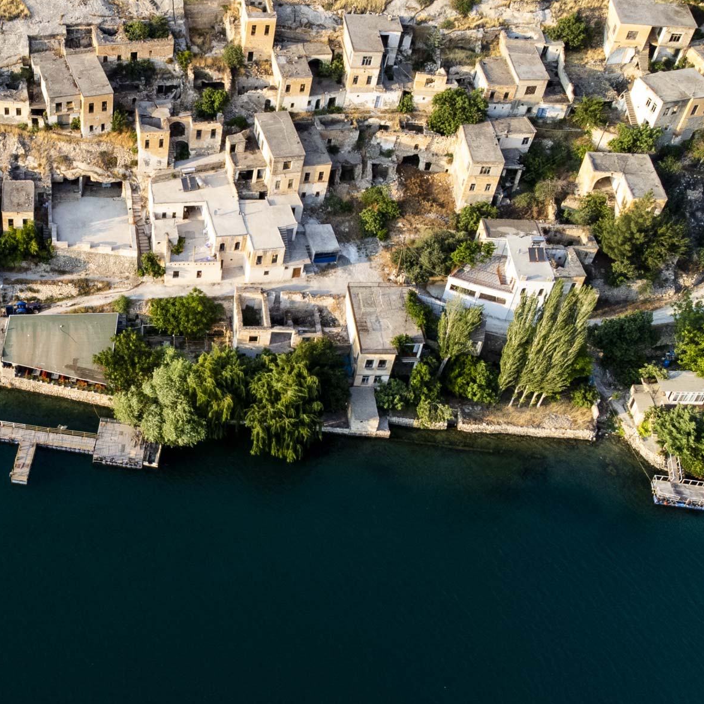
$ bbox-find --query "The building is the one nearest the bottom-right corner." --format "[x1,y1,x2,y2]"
[626,370,704,423]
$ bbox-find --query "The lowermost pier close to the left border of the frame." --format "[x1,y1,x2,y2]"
[0,417,150,483]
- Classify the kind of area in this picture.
residential area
